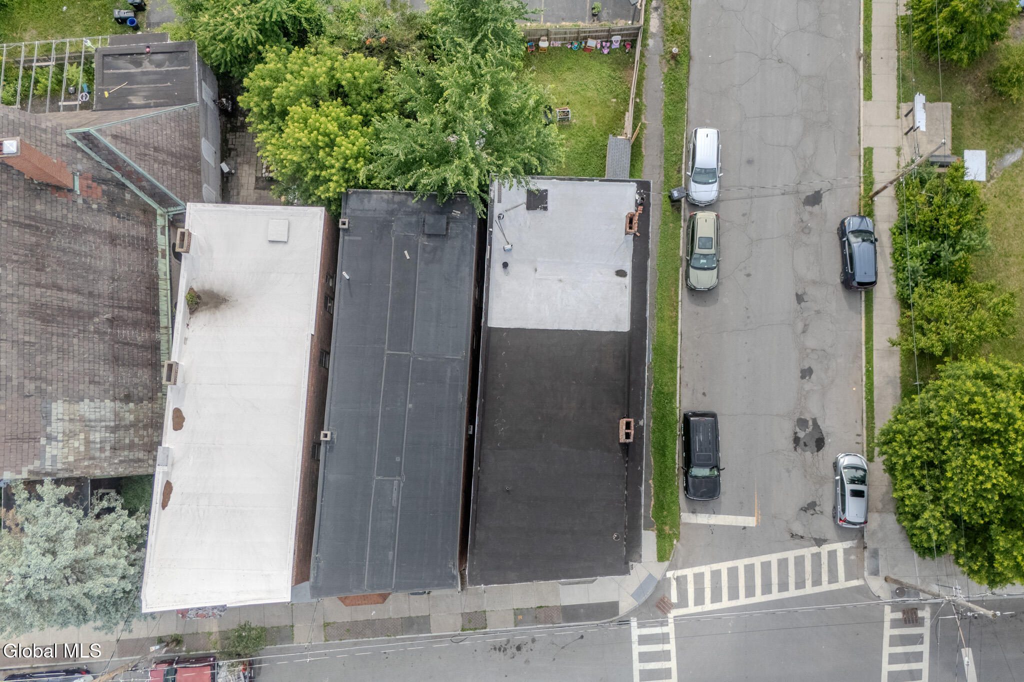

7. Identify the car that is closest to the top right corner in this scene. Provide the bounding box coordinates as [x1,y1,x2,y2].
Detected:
[837,215,881,293]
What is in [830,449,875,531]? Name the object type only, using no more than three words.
car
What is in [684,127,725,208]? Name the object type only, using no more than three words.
car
